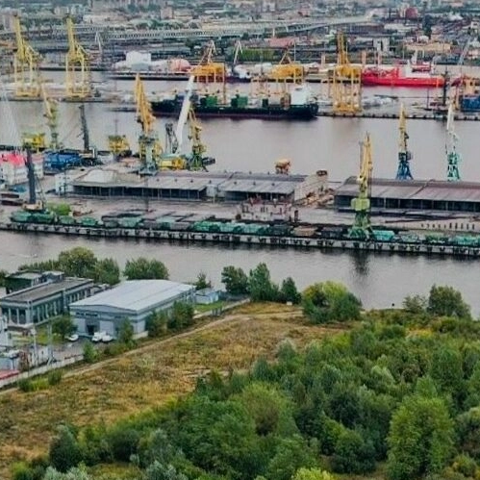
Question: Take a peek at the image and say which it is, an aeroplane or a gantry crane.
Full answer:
There is a gantry crane in the scene.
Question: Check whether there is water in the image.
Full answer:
Yes, there's water in this view.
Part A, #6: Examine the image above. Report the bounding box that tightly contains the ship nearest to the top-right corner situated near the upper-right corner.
[361,47,454,86]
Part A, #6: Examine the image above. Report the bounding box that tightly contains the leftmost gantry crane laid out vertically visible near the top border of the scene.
[9,18,44,99]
